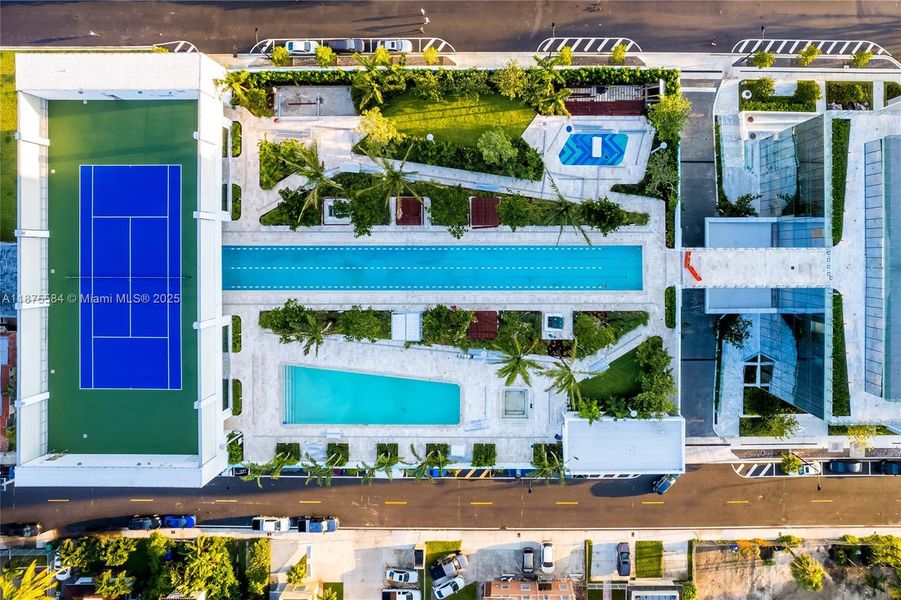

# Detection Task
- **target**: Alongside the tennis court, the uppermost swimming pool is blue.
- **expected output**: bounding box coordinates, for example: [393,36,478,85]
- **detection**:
[220,245,643,291]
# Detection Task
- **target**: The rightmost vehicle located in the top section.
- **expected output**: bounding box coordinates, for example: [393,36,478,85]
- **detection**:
[379,38,414,55]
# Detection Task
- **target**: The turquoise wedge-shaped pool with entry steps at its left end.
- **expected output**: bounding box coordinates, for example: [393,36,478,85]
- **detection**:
[282,363,463,428]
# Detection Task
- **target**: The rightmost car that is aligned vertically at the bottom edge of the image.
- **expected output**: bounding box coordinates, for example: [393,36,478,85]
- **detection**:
[616,540,632,576]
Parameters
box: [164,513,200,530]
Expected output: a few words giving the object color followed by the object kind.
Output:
blue car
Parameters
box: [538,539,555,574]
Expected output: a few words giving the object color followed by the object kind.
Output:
white car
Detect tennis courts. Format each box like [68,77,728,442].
[48,99,198,454]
